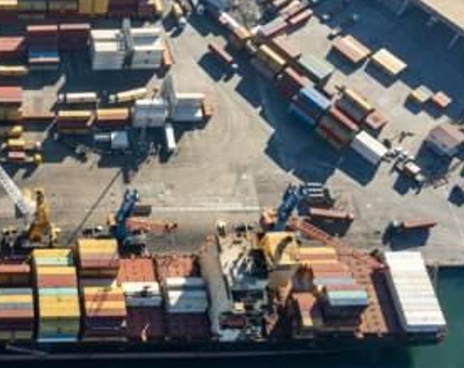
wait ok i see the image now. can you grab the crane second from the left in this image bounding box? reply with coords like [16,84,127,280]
[94,187,180,259]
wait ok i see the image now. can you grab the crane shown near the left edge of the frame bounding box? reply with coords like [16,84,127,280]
[0,155,67,265]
